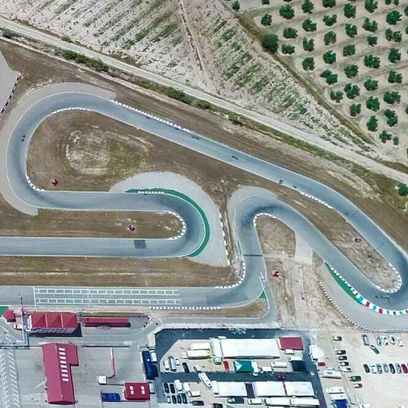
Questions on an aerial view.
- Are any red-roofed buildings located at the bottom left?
Yes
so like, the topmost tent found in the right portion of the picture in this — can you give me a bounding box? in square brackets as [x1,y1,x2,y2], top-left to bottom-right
[219,339,280,360]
